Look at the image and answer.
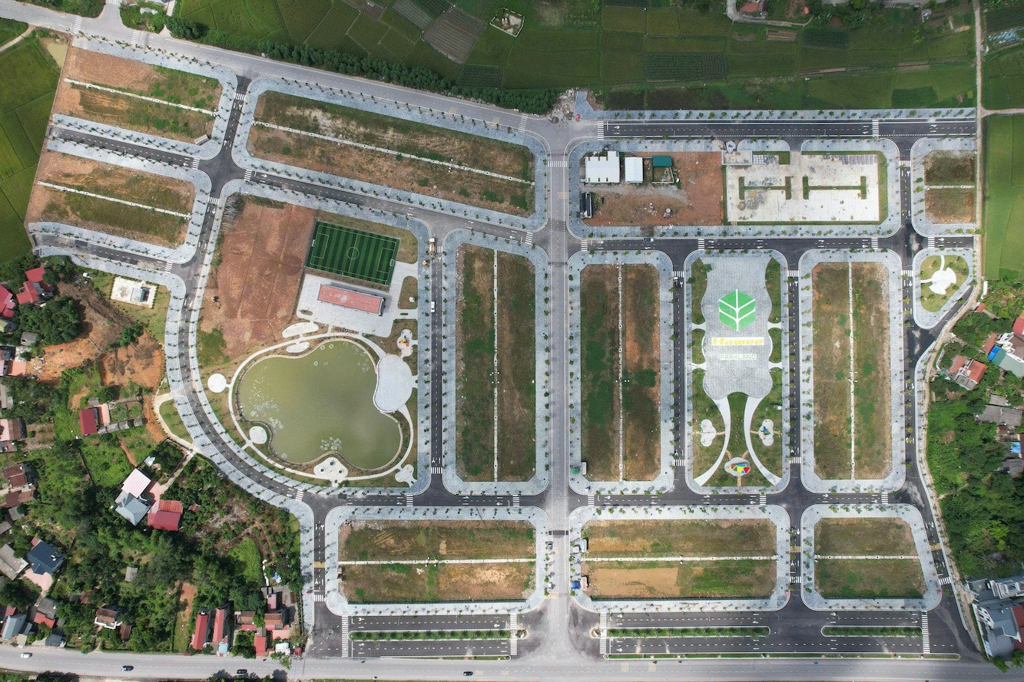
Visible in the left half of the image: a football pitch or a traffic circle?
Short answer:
football pitch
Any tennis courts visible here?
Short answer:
No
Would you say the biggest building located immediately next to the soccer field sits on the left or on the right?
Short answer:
left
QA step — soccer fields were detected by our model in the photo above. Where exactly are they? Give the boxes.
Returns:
[304,220,400,286]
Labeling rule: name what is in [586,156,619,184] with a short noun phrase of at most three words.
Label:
building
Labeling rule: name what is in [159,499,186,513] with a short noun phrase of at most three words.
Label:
house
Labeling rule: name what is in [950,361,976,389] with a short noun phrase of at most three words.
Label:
house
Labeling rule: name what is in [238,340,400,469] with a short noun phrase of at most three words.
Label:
pond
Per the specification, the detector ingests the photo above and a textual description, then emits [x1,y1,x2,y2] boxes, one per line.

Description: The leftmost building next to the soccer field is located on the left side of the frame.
[318,285,383,313]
